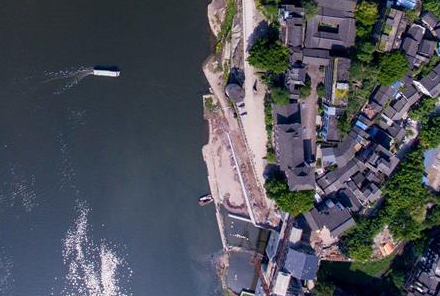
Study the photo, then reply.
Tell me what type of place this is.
residential area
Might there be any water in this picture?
Yes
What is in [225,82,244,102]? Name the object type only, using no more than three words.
building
